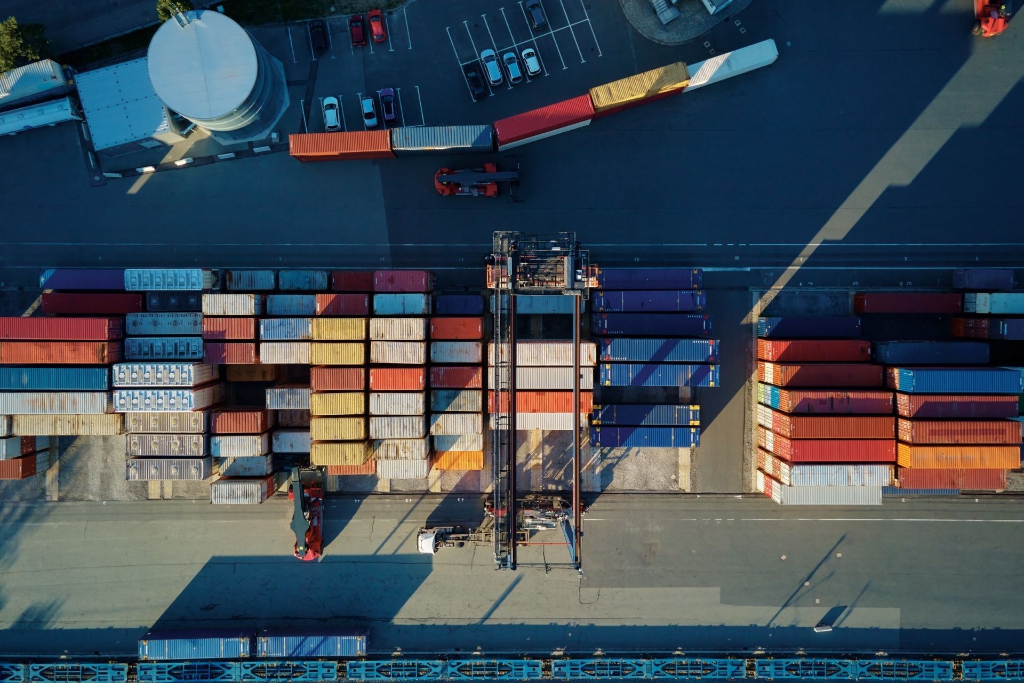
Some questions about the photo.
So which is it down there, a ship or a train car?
train car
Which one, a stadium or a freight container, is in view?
freight container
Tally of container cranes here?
1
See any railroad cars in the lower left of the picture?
Yes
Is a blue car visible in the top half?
Yes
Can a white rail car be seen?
No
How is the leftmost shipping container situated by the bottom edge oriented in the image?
horizontally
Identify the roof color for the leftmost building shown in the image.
blue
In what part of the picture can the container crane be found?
center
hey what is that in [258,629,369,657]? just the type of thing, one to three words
shipping container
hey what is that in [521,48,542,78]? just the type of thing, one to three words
car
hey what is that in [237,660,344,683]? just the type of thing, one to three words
rail car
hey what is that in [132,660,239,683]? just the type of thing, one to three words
rail car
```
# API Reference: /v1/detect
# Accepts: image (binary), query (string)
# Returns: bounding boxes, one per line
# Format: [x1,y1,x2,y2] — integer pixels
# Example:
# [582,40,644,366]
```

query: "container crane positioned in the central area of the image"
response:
[485,228,598,585]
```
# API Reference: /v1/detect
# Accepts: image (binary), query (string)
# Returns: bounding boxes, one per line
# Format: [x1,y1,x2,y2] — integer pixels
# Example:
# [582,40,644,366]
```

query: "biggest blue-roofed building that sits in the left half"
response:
[76,56,183,157]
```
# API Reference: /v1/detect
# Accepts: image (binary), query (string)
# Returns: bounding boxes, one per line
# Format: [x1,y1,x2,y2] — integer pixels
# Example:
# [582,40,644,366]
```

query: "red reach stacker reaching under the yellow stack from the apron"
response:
[279,474,327,562]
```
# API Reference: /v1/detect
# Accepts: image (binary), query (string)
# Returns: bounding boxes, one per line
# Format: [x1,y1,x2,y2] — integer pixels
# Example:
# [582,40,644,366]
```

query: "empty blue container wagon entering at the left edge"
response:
[0,661,29,682]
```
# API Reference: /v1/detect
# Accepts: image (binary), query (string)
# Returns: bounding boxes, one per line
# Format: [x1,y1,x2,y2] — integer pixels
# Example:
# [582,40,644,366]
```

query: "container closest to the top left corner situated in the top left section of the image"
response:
[0,58,64,102]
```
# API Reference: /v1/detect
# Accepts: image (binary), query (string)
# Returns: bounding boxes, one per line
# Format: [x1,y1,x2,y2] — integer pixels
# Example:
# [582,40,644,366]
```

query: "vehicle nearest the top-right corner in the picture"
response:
[971,0,1013,38]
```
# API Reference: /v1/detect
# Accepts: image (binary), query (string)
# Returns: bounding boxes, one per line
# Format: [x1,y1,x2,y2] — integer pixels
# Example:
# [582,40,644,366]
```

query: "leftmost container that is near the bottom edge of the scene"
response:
[140,631,255,658]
